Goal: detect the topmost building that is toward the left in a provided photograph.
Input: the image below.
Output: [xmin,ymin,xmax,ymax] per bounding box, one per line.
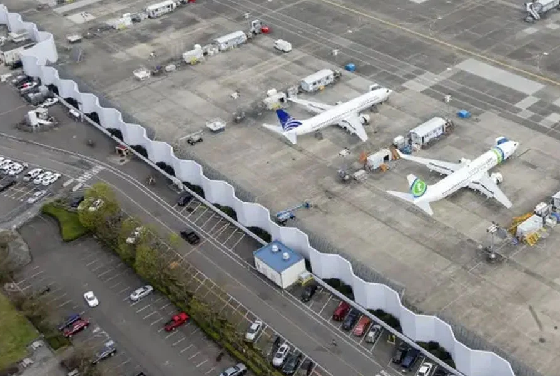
[143,0,176,21]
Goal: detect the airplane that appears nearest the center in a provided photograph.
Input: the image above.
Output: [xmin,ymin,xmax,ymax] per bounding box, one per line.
[276,88,391,146]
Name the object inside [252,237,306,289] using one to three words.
shed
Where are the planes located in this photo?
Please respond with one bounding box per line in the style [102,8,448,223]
[276,88,391,146]
[400,141,518,214]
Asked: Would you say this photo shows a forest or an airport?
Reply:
airport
